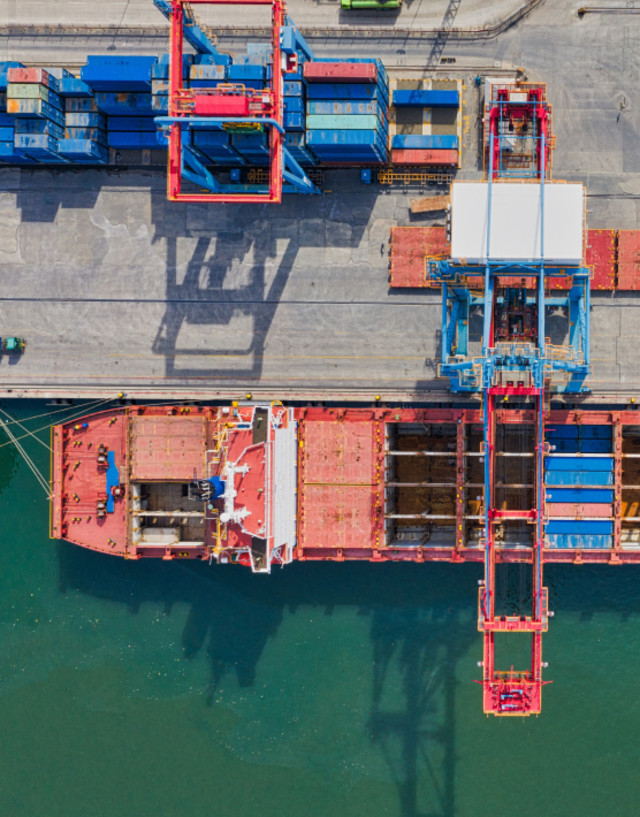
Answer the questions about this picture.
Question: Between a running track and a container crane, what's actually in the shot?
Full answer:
This aerial view contains a container crane.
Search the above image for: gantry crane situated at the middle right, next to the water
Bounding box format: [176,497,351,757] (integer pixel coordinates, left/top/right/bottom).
[429,81,599,720]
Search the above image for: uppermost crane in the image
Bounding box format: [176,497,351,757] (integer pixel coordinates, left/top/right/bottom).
[147,0,329,204]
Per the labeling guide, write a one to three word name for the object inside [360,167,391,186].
vehicle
